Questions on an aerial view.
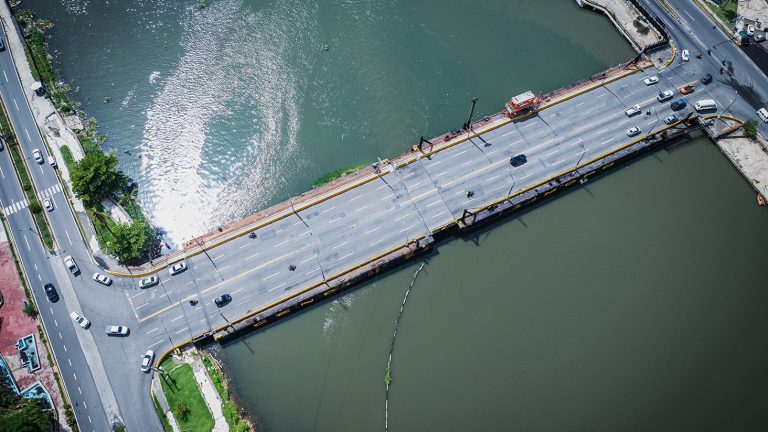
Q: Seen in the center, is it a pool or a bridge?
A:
bridge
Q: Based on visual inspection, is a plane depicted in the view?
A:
No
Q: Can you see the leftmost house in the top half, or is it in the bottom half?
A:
top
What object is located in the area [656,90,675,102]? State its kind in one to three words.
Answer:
vehicle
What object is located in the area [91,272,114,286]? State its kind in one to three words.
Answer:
car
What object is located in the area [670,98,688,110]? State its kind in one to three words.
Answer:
vehicle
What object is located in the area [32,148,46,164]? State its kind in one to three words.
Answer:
car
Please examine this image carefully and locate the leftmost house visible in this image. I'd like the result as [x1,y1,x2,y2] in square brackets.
[502,92,537,114]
